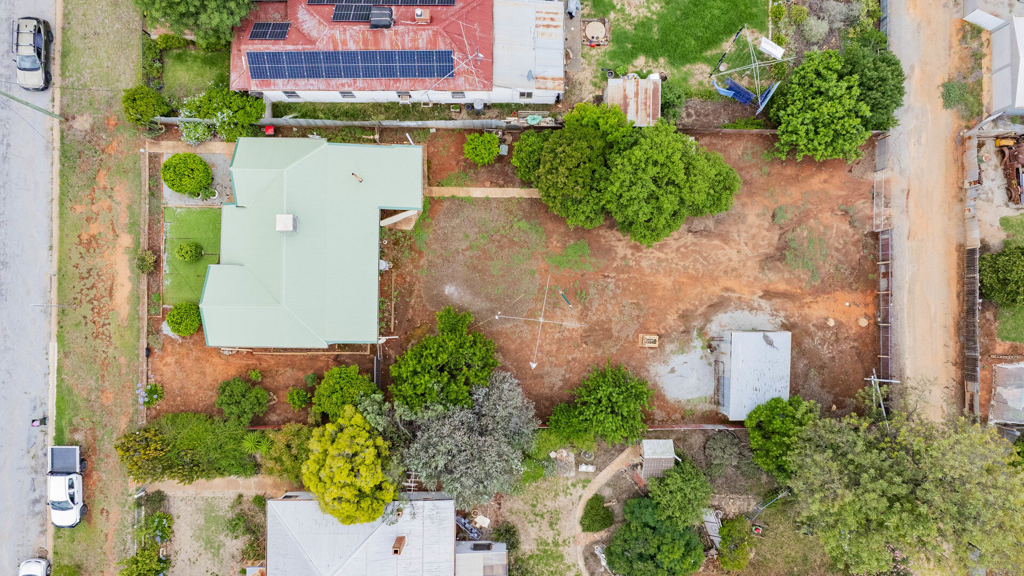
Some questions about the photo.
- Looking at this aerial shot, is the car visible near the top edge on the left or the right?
left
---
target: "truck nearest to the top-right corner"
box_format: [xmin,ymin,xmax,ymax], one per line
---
[999,146,1024,204]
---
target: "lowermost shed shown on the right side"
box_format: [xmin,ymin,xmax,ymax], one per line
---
[641,439,681,480]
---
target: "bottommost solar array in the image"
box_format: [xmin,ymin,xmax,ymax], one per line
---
[247,51,455,80]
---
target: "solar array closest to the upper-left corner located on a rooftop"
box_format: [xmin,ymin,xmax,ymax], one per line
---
[249,21,290,38]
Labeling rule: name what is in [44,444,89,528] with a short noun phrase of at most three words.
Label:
vehicle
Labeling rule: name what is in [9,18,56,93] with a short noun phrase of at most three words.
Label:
car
